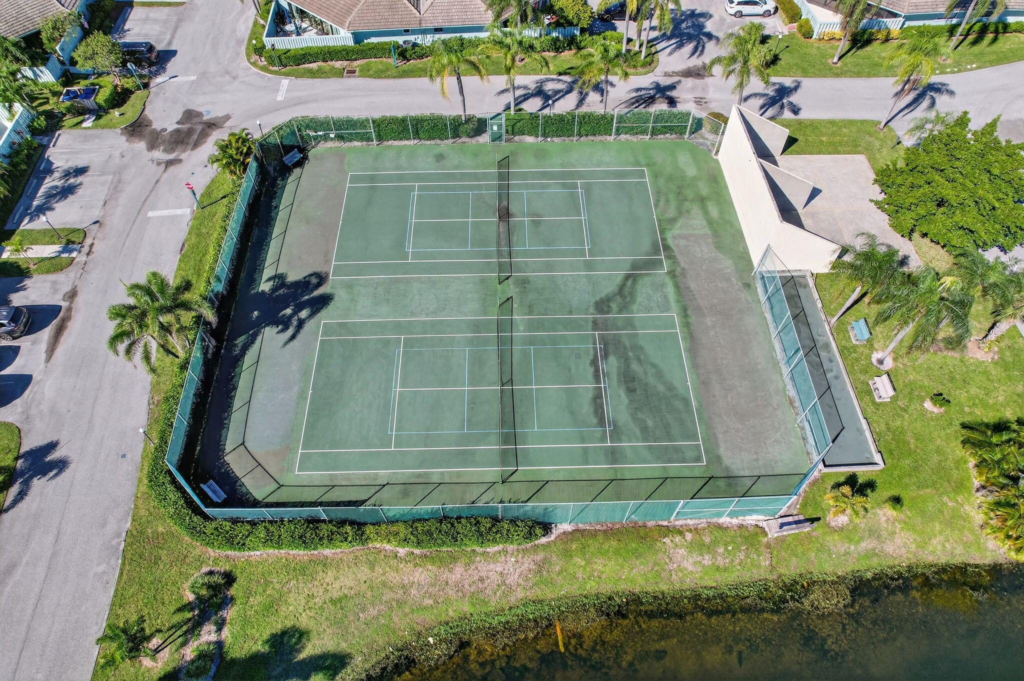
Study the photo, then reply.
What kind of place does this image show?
sports ground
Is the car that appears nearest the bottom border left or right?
left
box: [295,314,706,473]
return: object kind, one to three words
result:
tennis court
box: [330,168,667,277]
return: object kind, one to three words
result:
tennis court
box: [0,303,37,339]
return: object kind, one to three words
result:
car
